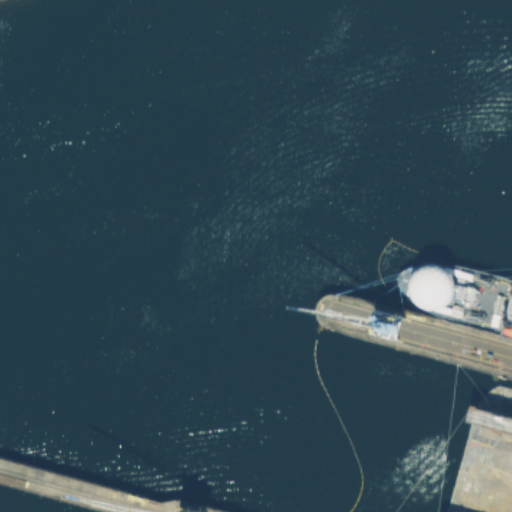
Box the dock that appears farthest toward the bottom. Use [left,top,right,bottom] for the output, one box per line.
[0,460,207,512]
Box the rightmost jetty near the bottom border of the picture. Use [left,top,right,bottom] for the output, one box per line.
[454,408,512,512]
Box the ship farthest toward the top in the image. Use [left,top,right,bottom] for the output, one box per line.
[398,263,512,338]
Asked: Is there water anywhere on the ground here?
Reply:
Yes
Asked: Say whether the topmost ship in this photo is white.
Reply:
Yes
